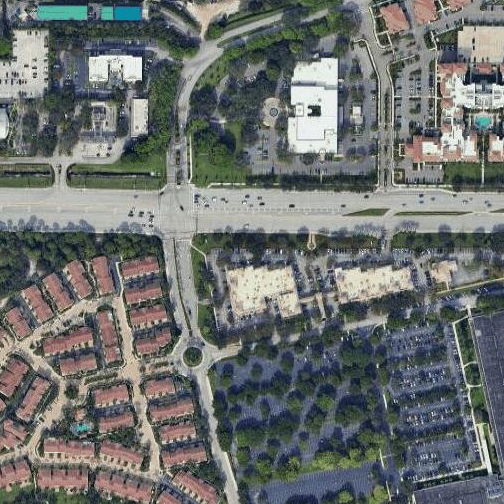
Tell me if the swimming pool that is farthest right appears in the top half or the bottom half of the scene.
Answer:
top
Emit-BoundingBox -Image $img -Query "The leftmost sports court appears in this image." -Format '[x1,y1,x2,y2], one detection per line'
[37,5,87,20]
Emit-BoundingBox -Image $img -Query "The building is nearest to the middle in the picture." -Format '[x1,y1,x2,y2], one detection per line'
[228,266,301,318]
